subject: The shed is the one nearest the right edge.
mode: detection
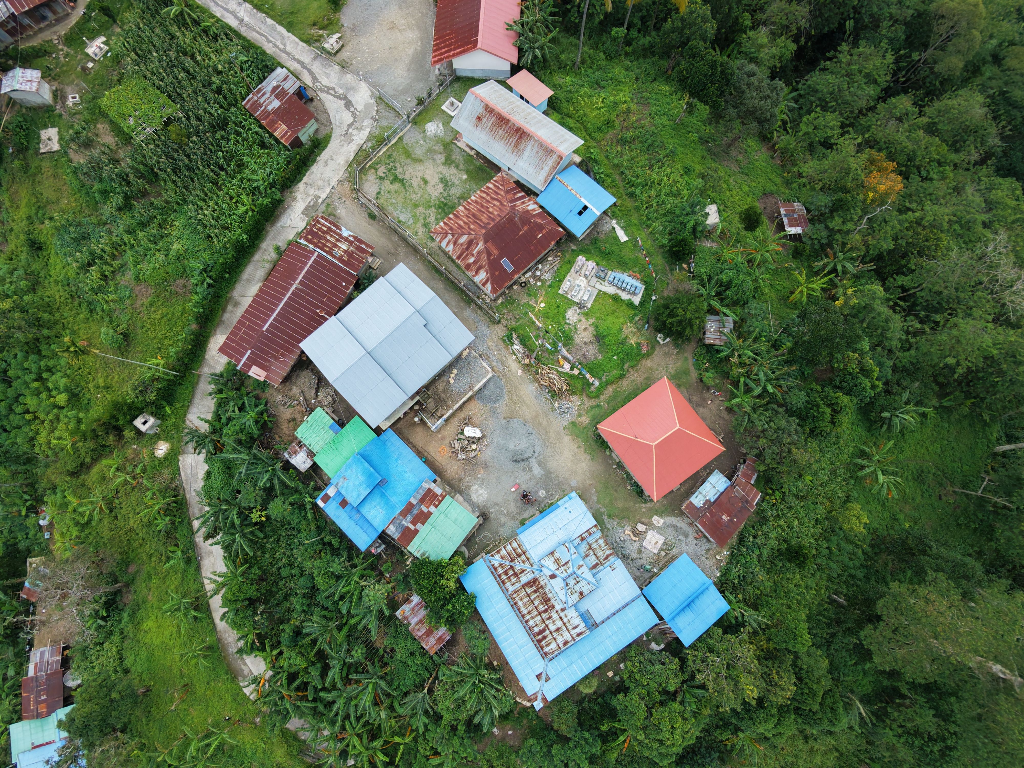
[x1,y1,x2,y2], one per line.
[772,199,809,239]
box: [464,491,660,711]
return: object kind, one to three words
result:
house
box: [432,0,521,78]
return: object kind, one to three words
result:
building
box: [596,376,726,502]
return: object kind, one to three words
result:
house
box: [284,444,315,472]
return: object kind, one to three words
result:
shed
